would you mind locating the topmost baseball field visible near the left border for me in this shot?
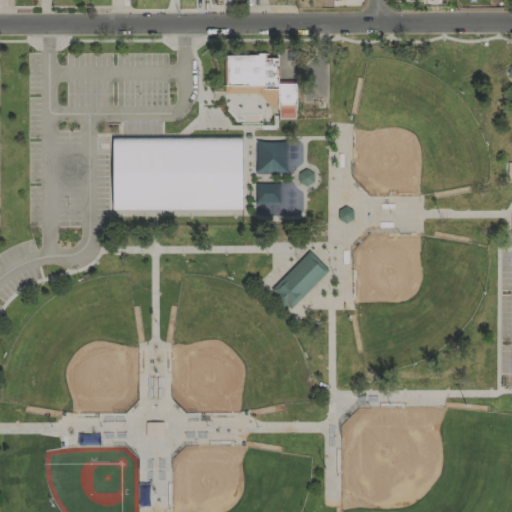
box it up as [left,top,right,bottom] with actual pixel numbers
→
[0,273,144,417]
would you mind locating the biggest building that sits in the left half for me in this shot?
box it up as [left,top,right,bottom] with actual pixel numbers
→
[113,138,243,211]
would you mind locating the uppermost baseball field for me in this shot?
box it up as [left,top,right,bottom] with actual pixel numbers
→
[352,58,491,198]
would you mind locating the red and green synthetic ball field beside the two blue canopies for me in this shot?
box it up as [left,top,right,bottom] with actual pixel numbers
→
[46,447,139,512]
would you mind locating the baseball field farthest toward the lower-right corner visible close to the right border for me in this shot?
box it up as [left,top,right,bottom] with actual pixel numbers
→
[342,402,512,512]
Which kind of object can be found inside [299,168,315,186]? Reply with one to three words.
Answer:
gazebo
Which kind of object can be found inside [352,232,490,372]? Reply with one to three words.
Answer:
baseball field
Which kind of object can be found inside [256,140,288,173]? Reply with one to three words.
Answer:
building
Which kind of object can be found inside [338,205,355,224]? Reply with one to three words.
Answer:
gazebo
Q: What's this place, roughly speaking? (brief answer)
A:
sports ground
